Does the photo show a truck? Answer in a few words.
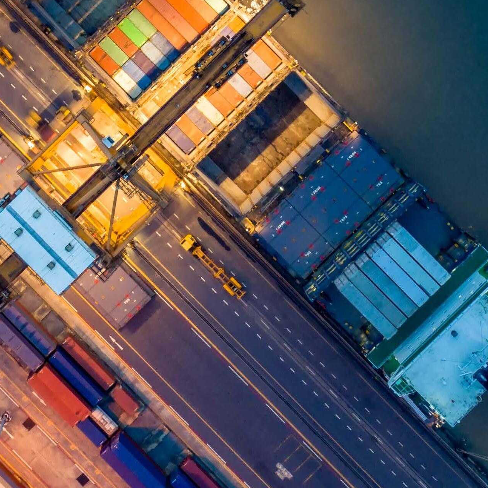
Yes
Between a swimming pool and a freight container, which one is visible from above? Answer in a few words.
freight container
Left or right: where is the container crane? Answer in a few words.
left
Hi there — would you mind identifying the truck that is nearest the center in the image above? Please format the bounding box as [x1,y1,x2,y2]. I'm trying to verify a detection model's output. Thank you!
[178,232,248,304]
